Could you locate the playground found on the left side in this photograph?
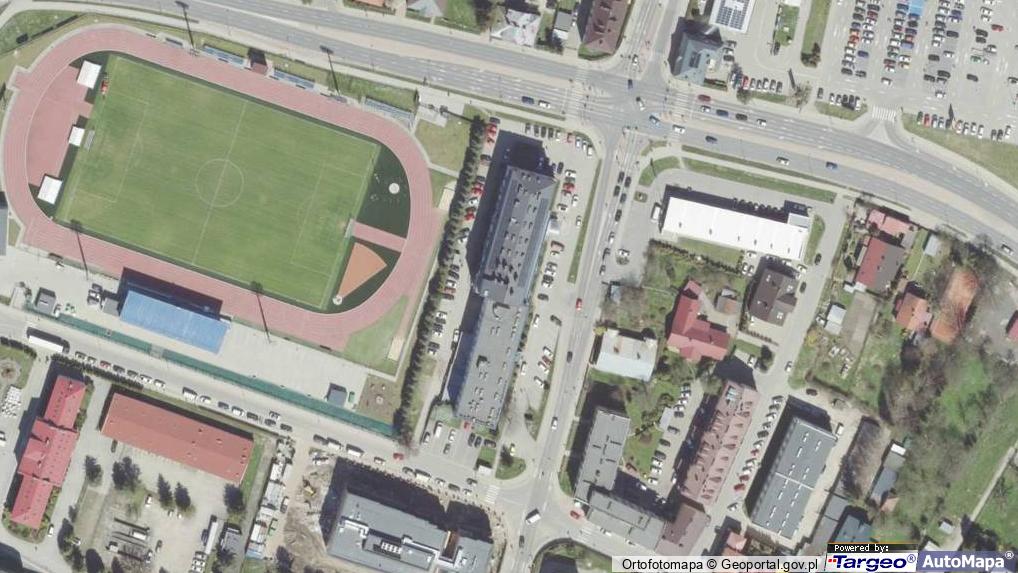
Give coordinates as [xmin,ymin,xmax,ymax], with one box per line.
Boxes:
[358,375,401,424]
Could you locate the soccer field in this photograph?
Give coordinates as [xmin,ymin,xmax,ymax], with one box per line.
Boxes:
[54,54,381,310]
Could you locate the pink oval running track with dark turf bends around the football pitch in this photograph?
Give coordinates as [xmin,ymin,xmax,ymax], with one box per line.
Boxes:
[2,30,455,357]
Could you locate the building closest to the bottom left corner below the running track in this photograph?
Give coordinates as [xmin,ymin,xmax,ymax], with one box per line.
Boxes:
[10,475,53,528]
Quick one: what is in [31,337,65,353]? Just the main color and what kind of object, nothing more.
white vehicle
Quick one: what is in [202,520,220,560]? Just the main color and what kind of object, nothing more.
white vehicle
